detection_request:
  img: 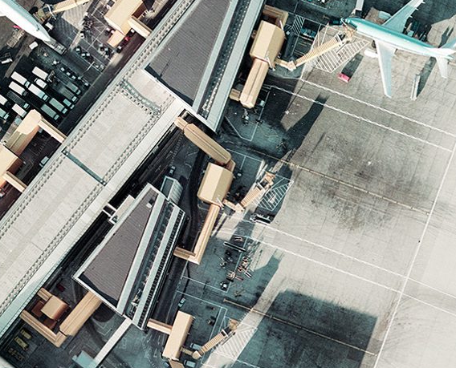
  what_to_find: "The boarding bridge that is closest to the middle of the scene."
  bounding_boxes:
[223,168,275,212]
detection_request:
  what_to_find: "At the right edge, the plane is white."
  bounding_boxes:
[342,0,455,95]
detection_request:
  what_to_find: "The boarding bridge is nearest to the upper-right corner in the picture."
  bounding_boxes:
[280,27,351,73]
